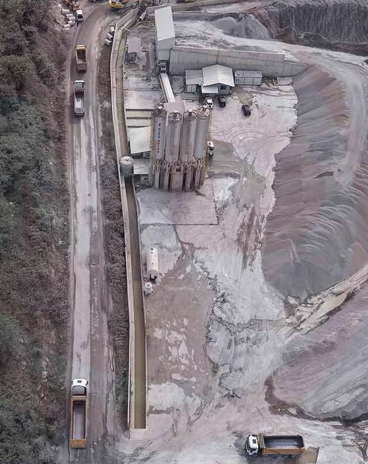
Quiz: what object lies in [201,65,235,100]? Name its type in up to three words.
building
